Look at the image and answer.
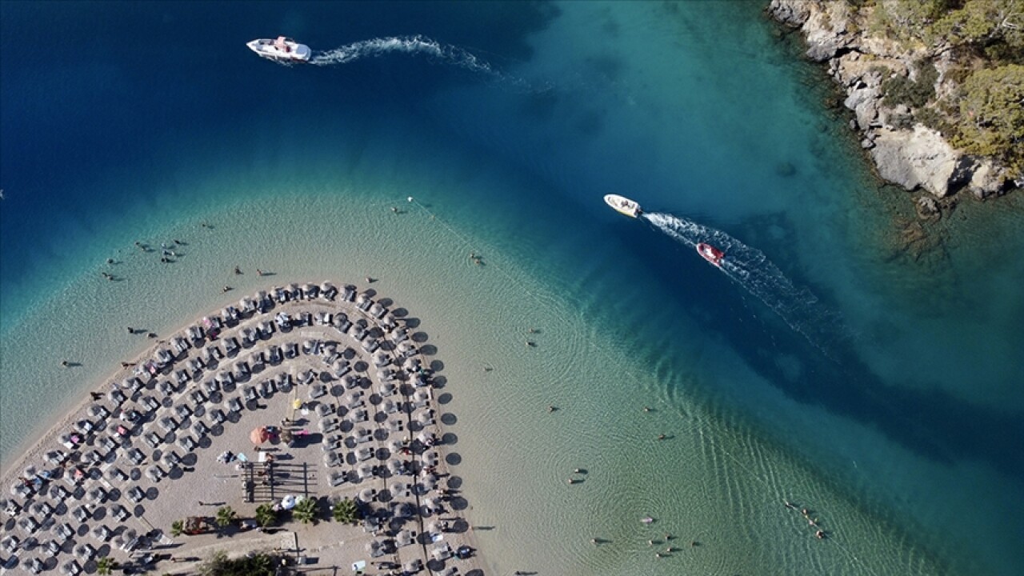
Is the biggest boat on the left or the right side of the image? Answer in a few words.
left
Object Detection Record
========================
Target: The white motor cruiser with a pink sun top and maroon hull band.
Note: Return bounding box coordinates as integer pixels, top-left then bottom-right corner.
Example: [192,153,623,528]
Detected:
[248,39,313,61]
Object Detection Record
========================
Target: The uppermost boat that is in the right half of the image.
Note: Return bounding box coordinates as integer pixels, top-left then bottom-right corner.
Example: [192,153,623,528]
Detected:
[604,196,642,217]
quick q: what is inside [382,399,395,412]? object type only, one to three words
umbrella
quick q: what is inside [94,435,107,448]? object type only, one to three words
umbrella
